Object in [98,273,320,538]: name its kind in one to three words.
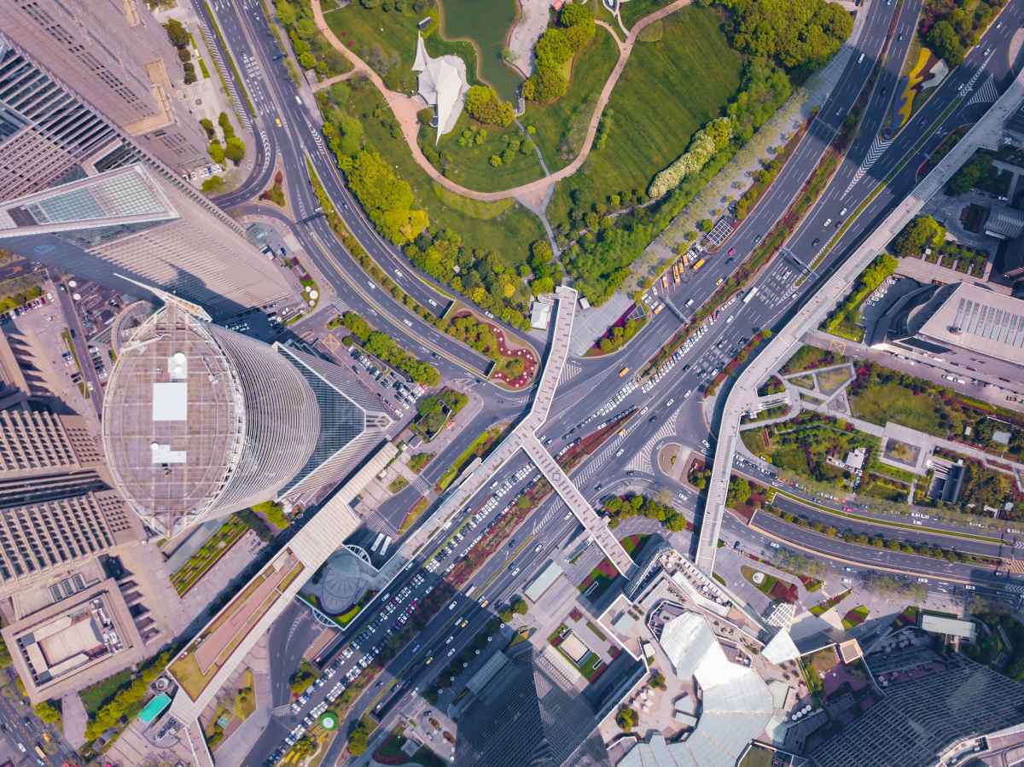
building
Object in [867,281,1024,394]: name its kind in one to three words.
building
